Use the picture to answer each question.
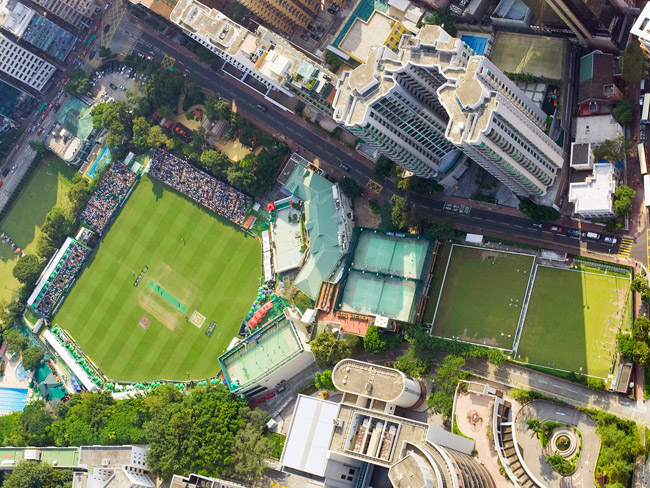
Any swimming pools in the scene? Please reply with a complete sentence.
Yes, the image includes a swimming pool.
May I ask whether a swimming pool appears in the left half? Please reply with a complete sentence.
Yes, the scene does show a swimming pool in the left half.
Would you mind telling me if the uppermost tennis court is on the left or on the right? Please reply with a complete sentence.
The uppermost tennis court is on the right side of the image.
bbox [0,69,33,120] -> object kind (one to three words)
building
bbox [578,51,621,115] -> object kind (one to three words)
house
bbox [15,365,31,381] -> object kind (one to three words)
swimming pool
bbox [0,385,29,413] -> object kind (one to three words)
swimming pool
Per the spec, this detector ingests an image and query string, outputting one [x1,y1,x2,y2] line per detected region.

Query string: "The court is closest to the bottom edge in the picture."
[335,270,418,322]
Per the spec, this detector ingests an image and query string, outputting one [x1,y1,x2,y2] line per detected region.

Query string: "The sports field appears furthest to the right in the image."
[49,177,264,385]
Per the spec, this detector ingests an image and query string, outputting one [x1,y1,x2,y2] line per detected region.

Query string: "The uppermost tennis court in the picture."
[489,29,569,79]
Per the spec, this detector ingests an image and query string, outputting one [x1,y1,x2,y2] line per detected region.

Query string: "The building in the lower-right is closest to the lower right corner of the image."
[616,366,636,394]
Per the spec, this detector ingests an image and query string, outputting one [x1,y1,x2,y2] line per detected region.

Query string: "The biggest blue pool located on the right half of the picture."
[458,32,491,56]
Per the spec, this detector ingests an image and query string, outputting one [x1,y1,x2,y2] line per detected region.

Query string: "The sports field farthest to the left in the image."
[0,164,74,320]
